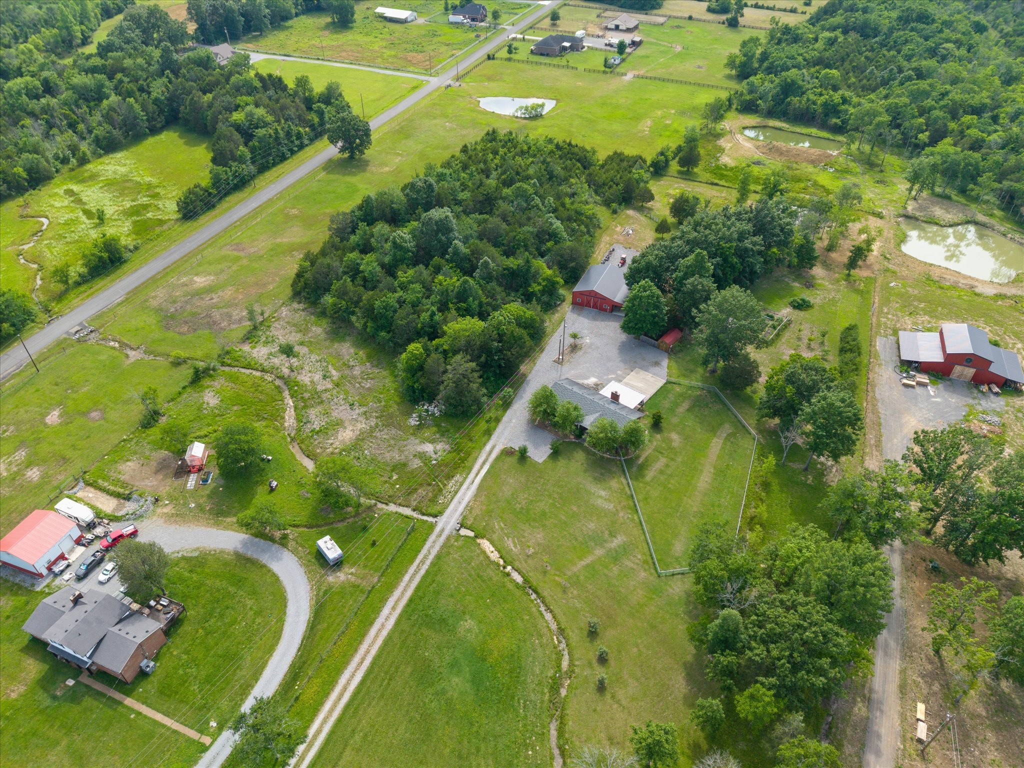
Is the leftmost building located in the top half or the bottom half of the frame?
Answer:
bottom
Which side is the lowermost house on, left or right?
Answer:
left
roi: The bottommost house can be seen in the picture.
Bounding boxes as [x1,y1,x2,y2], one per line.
[20,585,167,686]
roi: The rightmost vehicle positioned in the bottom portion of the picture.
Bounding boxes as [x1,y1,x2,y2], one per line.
[317,535,345,570]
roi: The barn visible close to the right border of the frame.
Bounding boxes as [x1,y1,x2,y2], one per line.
[895,323,1024,393]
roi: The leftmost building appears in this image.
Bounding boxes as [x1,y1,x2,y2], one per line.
[0,509,84,578]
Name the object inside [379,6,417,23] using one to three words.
barn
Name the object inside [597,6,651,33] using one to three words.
barn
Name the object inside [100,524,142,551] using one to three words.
truck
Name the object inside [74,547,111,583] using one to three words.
truck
